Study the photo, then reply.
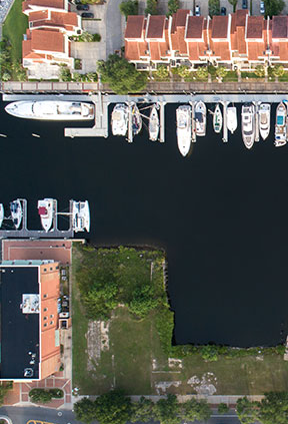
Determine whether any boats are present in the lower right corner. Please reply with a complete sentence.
No, I can find no boat in the lower right corner.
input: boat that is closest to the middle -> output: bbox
[62,200,91,233]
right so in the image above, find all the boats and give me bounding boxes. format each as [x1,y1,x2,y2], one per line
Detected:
[176,106,194,157]
[226,107,239,133]
[112,103,130,137]
[241,104,256,149]
[62,200,91,233]
[213,103,224,134]
[275,101,288,142]
[128,105,144,136]
[194,101,208,137]
[273,141,287,147]
[142,103,161,143]
[4,100,95,124]
[0,200,24,230]
[259,105,272,142]
[38,201,55,233]
[0,204,7,228]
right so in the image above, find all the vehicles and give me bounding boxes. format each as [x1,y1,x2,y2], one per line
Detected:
[81,12,94,18]
[76,3,89,10]
[220,5,226,16]
[241,0,248,10]
[195,4,200,16]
